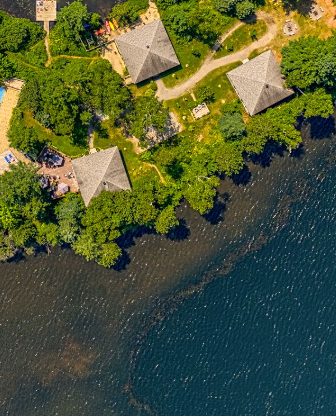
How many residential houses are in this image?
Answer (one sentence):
I count 3 residential houses.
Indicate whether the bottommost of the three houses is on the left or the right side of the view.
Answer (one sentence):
The bottommost of the three houses sits on the left side.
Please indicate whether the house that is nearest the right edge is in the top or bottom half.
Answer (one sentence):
Seen from above, the house that is nearest the right edge lies in the top half of the view.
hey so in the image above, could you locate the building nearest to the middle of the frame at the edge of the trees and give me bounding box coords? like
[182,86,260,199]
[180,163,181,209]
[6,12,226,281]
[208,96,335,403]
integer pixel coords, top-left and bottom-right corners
[71,145,130,206]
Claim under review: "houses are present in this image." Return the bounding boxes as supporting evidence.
[71,145,130,206]
[114,19,181,84]
[227,50,291,116]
